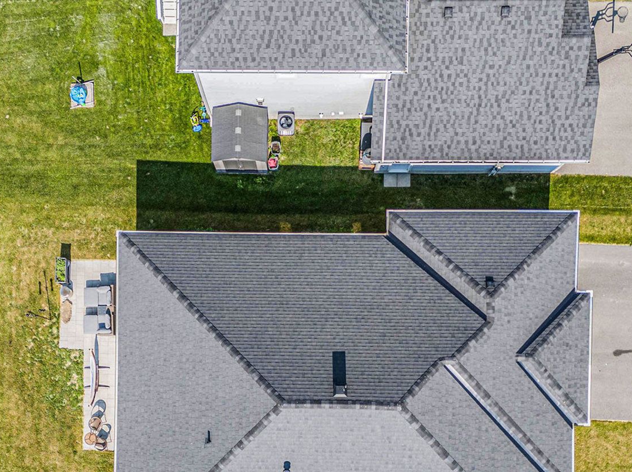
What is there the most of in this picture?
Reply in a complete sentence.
For the most part, this view shows buildings.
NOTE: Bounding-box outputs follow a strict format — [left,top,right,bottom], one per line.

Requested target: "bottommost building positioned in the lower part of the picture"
[113,209,592,472]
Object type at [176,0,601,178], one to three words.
house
